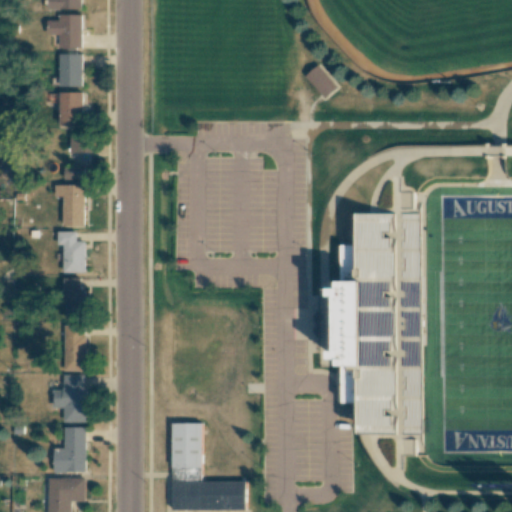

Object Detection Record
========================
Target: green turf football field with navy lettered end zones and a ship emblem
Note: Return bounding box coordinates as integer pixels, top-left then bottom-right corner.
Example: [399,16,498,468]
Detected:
[426,187,512,468]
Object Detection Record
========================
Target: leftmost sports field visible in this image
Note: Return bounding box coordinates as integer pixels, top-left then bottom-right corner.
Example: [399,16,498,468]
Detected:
[156,0,286,112]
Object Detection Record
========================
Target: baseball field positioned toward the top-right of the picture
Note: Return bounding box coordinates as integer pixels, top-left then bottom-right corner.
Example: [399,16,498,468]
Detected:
[307,0,512,80]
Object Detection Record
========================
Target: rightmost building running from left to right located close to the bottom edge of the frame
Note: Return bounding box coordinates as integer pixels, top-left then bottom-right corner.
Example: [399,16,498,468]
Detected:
[172,481,250,510]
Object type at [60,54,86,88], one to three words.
house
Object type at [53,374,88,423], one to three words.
house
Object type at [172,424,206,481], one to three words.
building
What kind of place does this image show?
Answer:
sports ground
